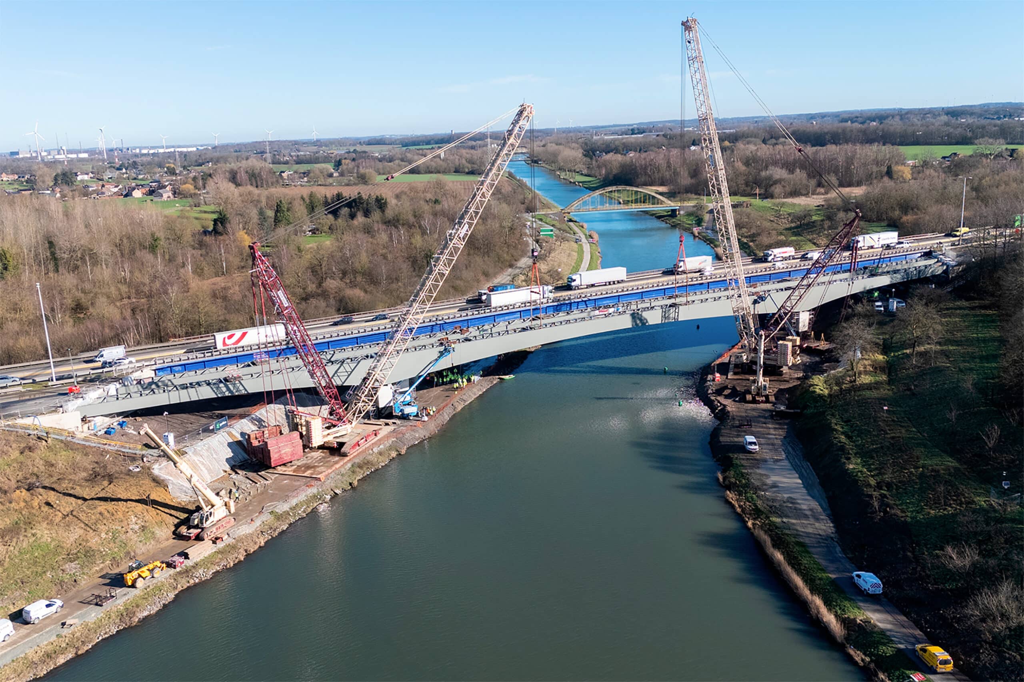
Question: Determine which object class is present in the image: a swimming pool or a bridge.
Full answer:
The one in the frame is a bridge.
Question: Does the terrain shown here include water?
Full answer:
Yes, there's water in this view.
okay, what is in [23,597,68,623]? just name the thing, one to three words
vehicle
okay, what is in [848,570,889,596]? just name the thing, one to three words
vehicle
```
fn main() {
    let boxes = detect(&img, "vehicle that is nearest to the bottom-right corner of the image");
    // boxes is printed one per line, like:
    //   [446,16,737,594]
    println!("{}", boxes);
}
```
[911,643,962,676]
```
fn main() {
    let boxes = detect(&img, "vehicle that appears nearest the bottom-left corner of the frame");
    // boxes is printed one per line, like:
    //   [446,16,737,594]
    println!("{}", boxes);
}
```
[0,619,24,640]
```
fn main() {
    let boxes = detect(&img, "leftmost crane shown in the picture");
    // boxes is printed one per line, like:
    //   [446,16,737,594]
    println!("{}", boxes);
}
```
[135,419,240,537]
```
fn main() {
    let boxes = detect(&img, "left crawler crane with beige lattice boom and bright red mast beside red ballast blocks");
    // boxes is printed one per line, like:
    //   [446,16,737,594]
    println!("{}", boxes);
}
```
[248,93,537,457]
